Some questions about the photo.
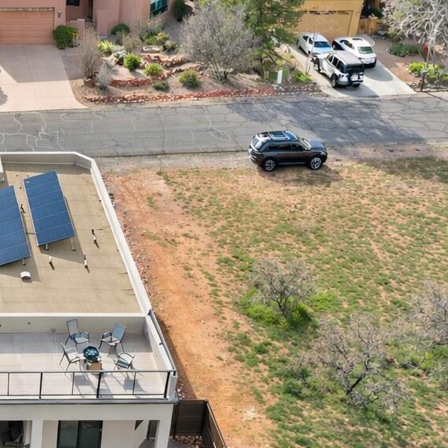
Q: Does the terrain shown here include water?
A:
No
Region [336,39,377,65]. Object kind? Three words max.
car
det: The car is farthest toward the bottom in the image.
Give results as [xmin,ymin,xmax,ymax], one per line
[245,133,333,172]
